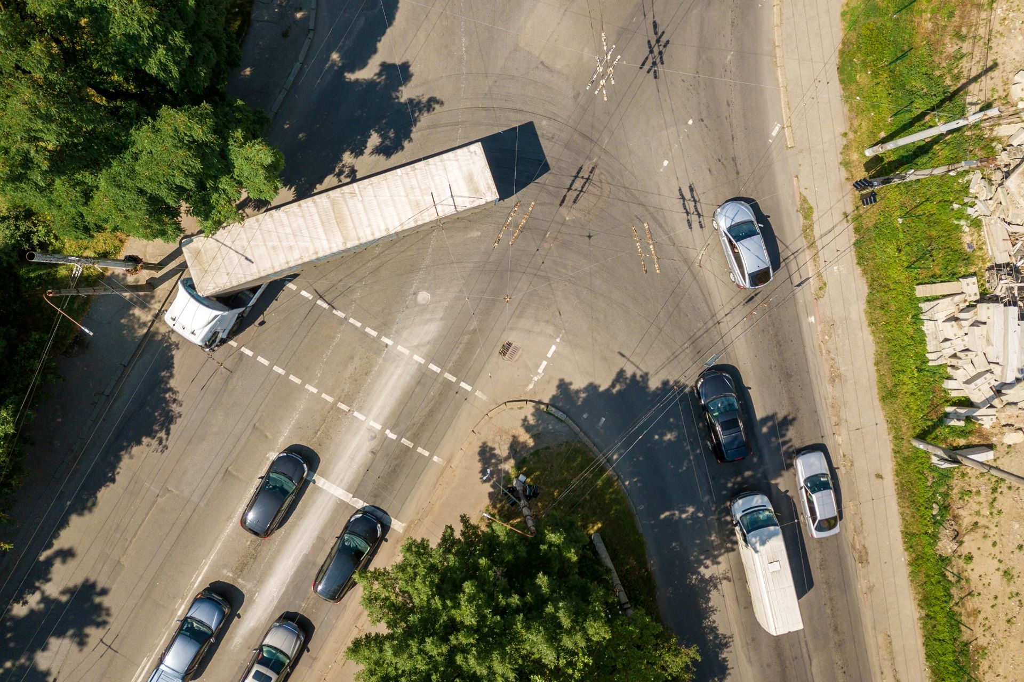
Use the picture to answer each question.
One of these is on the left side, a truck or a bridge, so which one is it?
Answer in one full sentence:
You can see a truck on the left side.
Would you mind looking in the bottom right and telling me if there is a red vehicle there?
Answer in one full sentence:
No, I can find no red vehicle in the bottom right.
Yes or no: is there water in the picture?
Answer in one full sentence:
No, there is no water in the image.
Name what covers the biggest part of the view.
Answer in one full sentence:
The bulk of the photo consists of paved ground.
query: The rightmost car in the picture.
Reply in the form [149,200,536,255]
[791,450,840,537]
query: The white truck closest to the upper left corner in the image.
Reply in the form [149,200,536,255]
[156,142,499,366]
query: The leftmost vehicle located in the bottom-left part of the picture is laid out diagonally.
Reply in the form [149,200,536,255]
[144,590,232,682]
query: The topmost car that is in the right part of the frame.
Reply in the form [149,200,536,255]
[716,198,772,289]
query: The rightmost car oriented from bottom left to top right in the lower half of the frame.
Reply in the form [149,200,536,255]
[313,509,385,604]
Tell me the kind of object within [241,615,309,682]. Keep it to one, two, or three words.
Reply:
car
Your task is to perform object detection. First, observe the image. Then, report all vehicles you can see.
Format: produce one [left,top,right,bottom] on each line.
[716,198,772,289]
[731,492,804,634]
[697,368,753,461]
[241,615,309,682]
[791,450,840,537]
[313,509,385,604]
[156,142,499,366]
[144,590,232,682]
[242,450,311,538]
